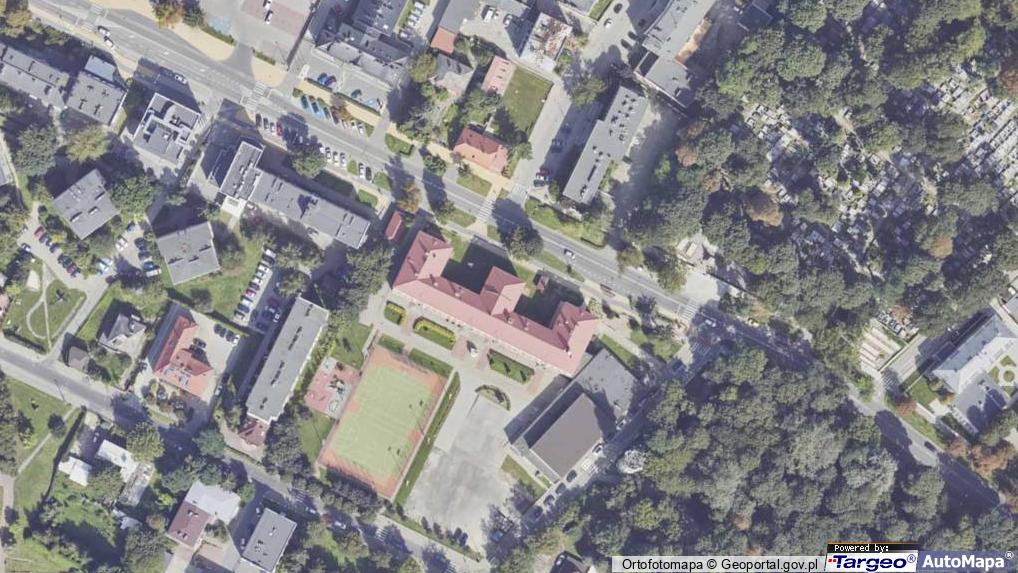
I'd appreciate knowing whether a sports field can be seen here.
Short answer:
Yes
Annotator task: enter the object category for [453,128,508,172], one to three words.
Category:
house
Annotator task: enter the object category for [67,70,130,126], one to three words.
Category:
building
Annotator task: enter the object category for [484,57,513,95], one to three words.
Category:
shed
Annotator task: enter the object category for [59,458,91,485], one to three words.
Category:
shed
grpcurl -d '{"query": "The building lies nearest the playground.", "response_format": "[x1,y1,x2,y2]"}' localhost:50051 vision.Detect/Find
[246,296,330,424]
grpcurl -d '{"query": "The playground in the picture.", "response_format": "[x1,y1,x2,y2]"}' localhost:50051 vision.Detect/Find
[305,357,361,418]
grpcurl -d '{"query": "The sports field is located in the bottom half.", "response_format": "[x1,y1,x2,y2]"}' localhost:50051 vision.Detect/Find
[329,359,437,487]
